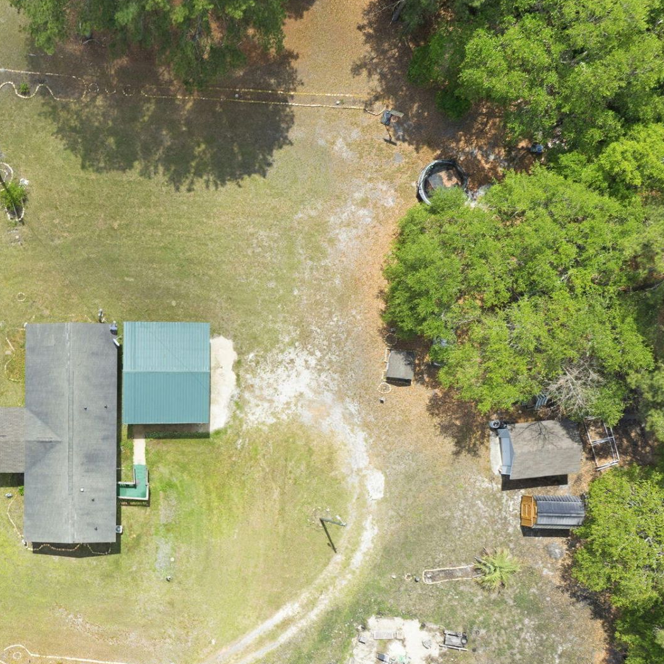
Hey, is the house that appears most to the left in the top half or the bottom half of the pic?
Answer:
bottom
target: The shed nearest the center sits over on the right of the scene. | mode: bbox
[382,350,415,379]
